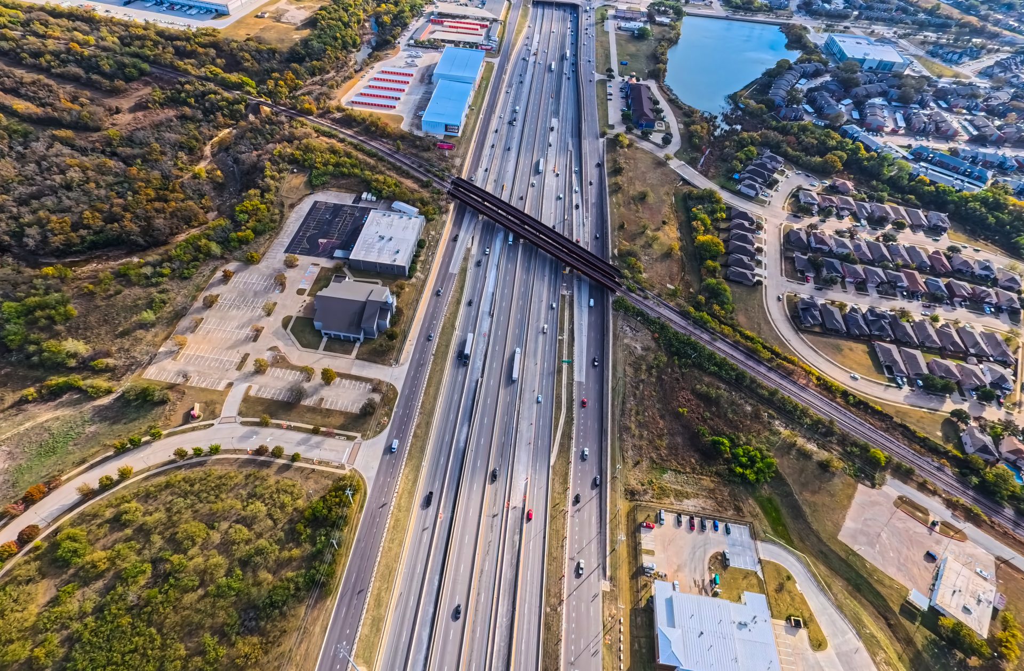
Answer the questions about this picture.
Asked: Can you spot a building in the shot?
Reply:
Yes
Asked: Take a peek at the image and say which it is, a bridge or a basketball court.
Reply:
bridge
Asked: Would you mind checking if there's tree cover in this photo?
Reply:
Yes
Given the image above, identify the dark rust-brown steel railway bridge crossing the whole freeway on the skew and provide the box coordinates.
[448,176,622,296]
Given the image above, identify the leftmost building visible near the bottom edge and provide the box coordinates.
[651,579,782,671]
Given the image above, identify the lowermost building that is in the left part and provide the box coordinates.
[309,275,394,339]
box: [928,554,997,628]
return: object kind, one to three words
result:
building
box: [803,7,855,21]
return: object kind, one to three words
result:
building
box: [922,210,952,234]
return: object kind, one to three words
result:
house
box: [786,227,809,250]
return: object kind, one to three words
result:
house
